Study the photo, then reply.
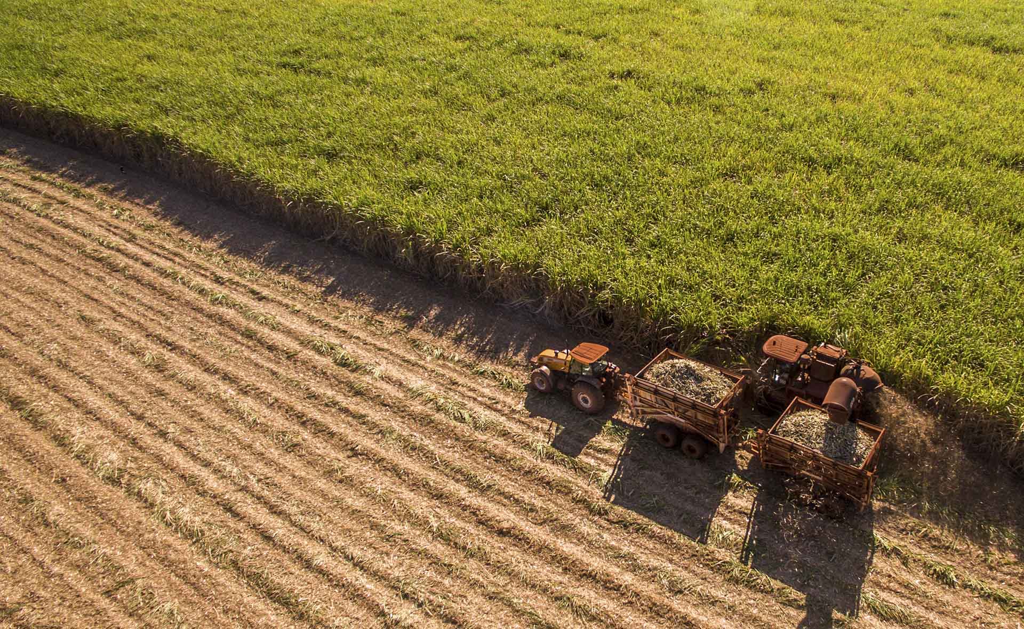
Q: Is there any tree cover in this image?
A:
No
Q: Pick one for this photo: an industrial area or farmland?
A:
farmland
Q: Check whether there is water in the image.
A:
No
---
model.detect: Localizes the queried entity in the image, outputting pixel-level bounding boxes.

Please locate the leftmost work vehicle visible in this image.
[530,343,627,417]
